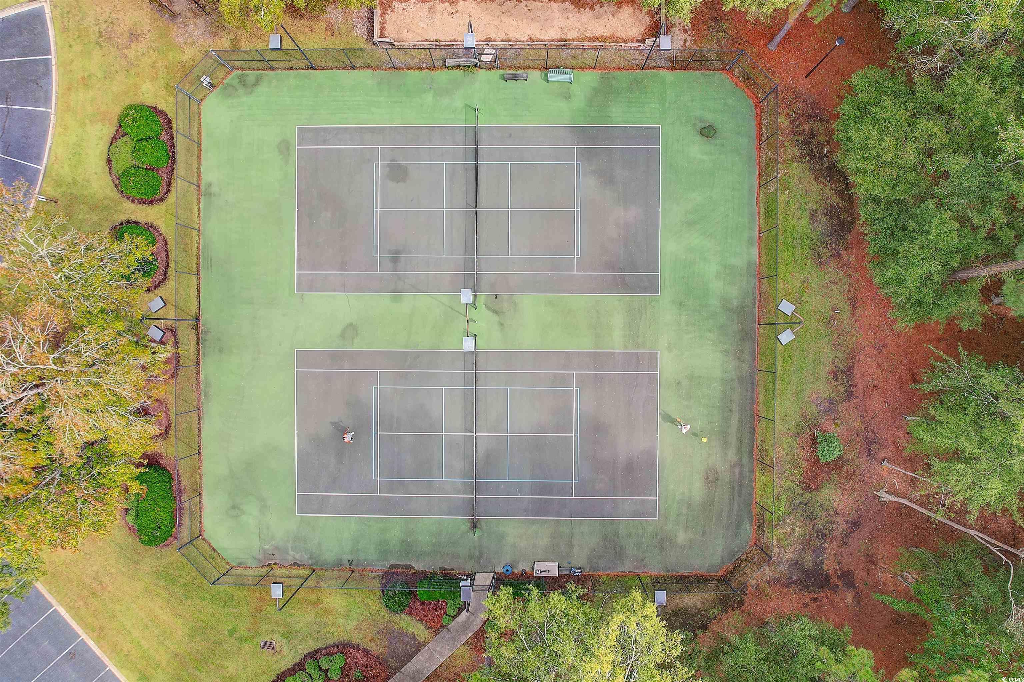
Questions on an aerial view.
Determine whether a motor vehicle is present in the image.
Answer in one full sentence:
No, no motor vehicle is visible in the view.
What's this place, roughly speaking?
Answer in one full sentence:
It's a sports ground.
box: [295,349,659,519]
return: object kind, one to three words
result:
tennis court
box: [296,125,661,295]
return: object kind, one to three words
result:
tennis court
